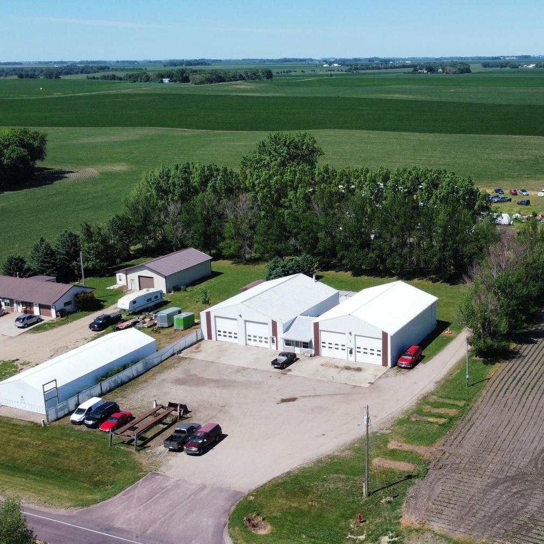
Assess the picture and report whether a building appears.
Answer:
Yes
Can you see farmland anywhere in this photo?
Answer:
Yes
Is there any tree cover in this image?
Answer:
Yes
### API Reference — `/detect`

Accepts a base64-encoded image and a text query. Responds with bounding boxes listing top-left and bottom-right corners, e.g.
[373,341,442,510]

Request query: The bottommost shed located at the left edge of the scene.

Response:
[0,329,153,414]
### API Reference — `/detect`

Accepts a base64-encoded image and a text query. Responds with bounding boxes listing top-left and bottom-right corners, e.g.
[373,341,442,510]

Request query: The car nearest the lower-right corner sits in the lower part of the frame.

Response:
[399,346,421,368]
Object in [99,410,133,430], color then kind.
red car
